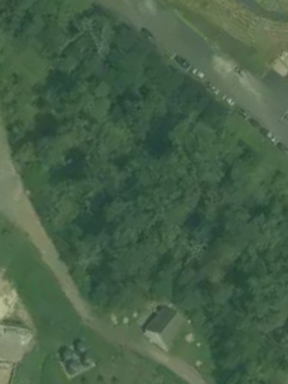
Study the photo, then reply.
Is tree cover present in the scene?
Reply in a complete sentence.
Yes, some tree cover is visible.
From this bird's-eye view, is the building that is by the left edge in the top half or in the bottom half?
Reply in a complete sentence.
The building that is by the left edge sits in the bottom half of the picture.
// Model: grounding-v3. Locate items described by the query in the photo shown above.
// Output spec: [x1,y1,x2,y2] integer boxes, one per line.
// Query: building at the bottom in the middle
[144,305,186,350]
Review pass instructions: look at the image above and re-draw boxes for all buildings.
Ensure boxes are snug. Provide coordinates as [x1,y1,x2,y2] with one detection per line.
[144,305,186,350]
[0,326,33,361]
